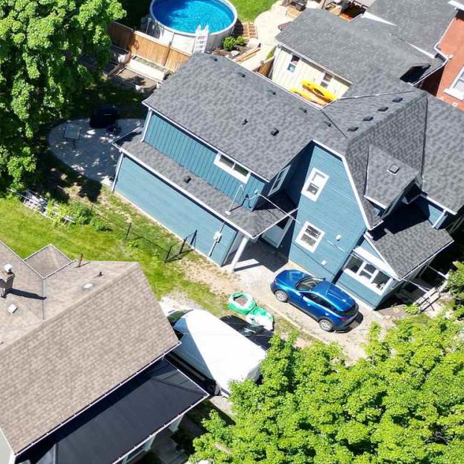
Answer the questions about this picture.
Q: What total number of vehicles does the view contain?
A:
2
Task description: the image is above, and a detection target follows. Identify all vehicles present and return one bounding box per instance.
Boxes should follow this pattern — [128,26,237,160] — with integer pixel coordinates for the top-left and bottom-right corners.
[166,302,260,392]
[270,276,364,328]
